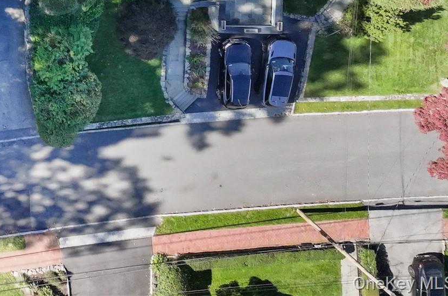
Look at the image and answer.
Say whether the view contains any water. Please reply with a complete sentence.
No, the scene doesn't show any water.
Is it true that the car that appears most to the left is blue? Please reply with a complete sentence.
Yes, the car that appears most to the left is blue.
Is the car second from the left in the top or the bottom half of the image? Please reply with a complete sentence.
It is in the top half that the car second from the left appears.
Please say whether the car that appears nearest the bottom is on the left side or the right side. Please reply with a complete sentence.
The car that appears nearest the bottom appears in the right half of the scene.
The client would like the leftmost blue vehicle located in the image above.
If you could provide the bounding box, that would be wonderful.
[216,37,256,110]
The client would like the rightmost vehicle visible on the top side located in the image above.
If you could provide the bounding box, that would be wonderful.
[255,34,299,109]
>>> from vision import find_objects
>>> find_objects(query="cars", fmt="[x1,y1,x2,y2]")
[216,37,256,110]
[255,34,299,109]
[403,252,447,296]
